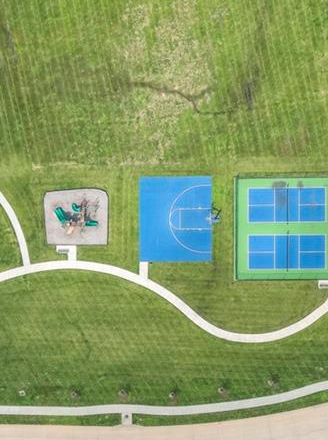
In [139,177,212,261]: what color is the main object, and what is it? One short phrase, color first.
blue basketball court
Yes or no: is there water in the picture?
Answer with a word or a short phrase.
No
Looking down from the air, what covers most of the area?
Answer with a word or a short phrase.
grass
